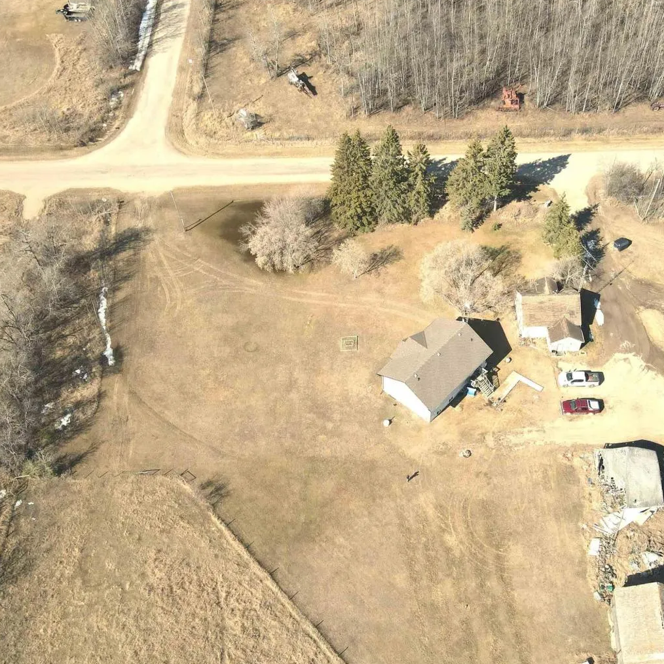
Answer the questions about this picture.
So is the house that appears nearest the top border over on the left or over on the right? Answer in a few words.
right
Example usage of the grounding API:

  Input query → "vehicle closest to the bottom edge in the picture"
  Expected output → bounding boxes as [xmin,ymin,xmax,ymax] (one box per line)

[560,397,605,415]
